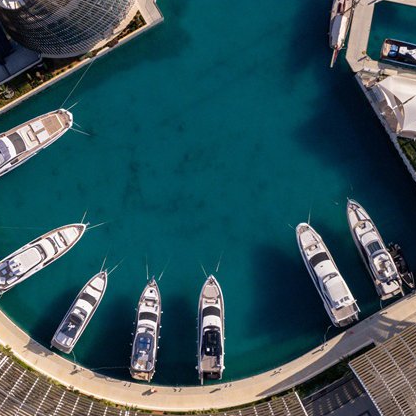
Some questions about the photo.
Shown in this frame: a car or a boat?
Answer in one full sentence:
It is a boat that can be seen here.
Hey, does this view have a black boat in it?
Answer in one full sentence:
Yes, the photo shows a black boat.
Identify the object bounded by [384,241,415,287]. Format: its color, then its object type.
black boat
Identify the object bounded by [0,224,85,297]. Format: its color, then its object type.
white boat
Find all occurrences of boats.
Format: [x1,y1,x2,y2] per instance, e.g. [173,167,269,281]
[378,43,416,69]
[0,224,85,297]
[329,0,355,66]
[290,210,357,341]
[0,55,99,180]
[384,241,415,287]
[96,274,161,383]
[336,189,404,307]
[196,265,224,385]
[53,259,118,355]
